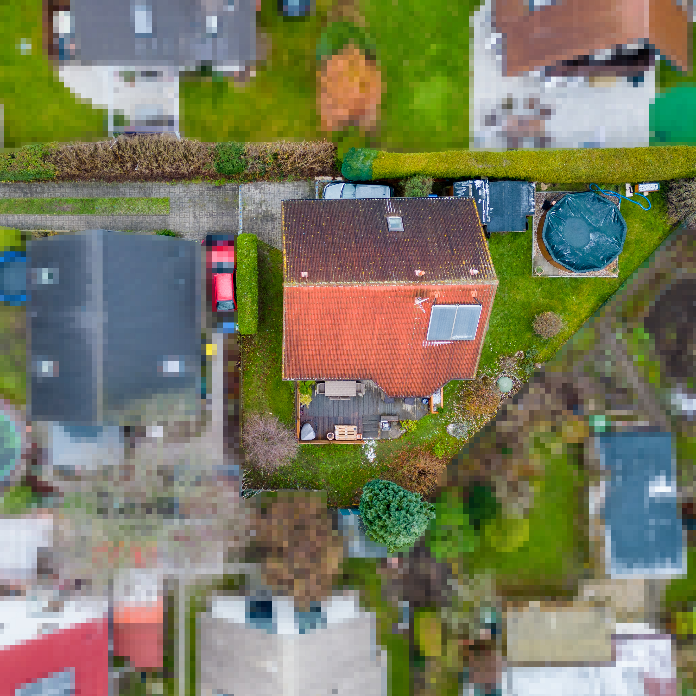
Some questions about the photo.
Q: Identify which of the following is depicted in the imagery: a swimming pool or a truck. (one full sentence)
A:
It is a swimming pool that can be seen here.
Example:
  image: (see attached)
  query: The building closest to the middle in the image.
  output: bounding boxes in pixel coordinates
[280,195,499,400]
